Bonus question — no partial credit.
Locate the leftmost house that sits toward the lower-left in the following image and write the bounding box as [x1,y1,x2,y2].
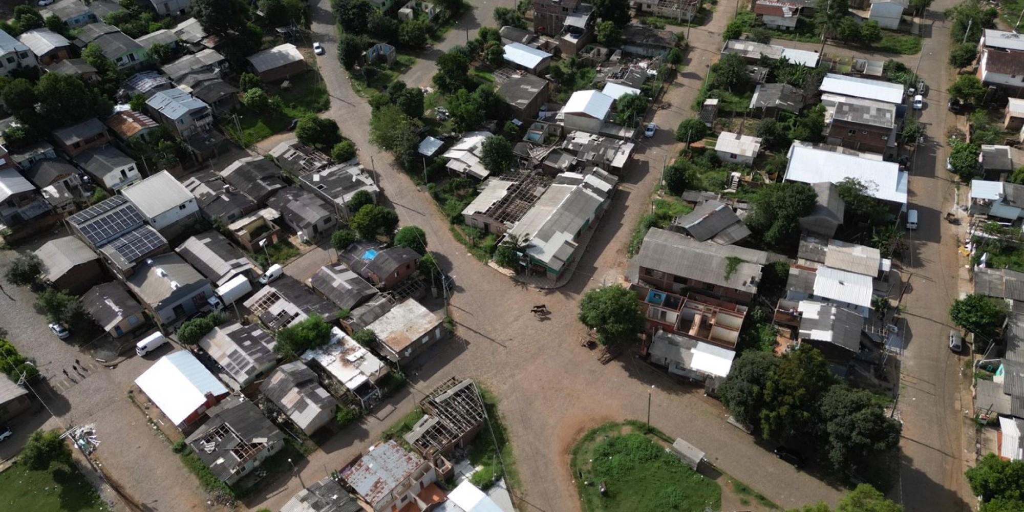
[0,371,32,419]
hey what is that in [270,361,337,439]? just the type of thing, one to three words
house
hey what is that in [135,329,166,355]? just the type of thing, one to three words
vehicle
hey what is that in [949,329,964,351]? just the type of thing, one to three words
car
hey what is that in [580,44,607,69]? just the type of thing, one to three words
house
